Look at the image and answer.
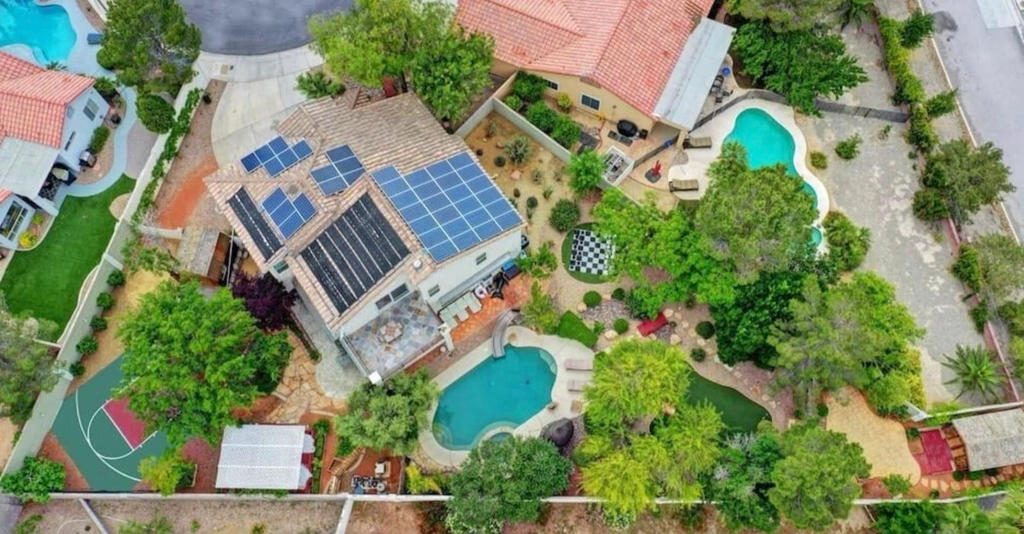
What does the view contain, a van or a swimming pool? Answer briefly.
swimming pool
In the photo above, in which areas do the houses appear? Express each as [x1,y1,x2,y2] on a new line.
[453,0,735,144]
[0,52,112,252]
[210,82,529,393]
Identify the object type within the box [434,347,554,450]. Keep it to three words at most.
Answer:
swimming pool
